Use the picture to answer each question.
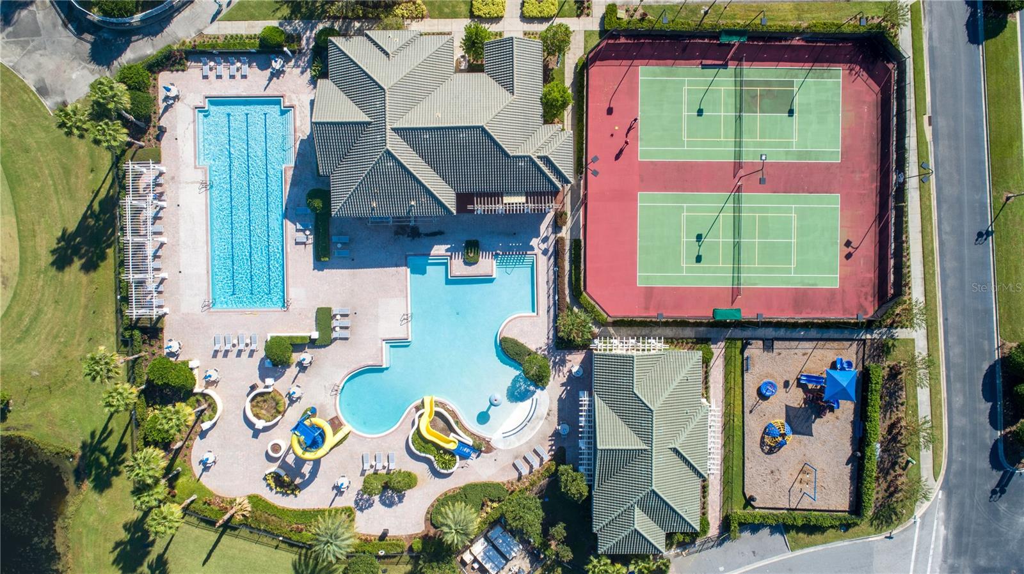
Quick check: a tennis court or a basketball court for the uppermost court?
tennis court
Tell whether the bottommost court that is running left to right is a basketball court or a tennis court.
tennis court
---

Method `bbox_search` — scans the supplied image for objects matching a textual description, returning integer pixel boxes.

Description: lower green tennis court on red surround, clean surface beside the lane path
[587,177,893,318]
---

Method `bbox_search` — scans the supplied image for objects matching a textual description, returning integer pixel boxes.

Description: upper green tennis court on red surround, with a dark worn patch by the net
[588,39,895,177]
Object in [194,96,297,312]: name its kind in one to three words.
swimming pool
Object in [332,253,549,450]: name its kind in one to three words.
swimming pool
